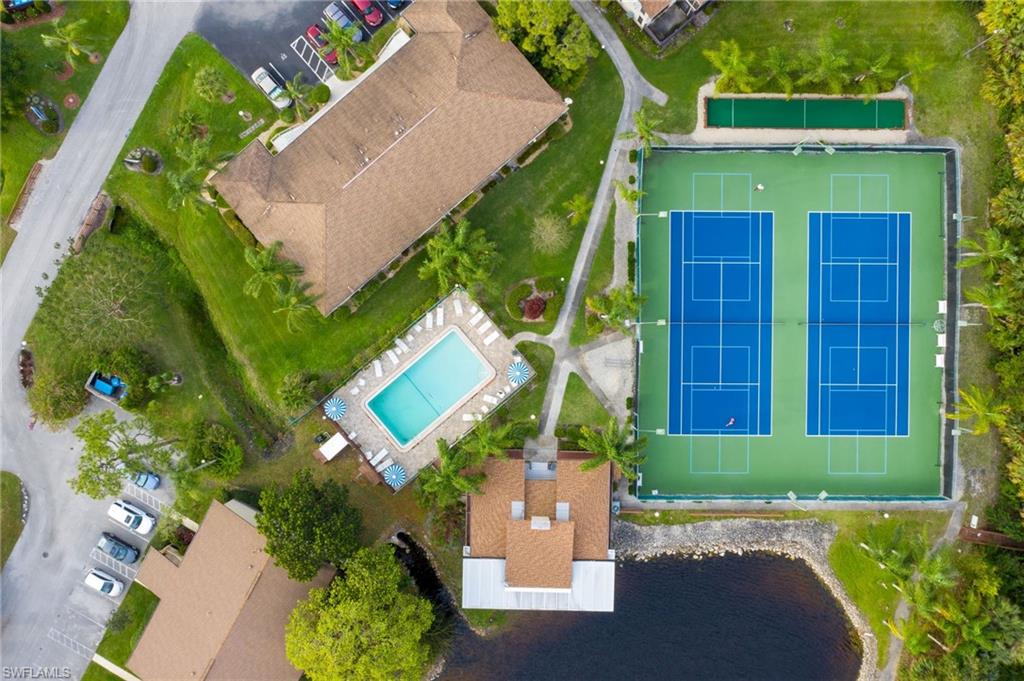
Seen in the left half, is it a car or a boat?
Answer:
car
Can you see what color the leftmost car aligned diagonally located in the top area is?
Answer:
white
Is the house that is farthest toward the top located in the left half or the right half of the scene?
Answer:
right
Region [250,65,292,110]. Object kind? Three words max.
car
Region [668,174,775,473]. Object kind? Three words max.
tennis court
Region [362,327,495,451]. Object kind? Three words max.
swimming pool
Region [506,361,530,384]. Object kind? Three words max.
umbrella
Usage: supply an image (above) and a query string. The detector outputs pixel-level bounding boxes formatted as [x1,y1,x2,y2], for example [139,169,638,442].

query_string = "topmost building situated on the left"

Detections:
[208,0,566,316]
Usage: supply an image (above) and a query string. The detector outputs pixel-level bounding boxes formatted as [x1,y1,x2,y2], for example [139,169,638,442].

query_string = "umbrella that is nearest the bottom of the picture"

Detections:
[384,464,407,487]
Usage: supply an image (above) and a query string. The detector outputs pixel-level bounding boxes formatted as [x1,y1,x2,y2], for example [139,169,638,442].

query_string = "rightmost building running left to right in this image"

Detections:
[618,0,718,47]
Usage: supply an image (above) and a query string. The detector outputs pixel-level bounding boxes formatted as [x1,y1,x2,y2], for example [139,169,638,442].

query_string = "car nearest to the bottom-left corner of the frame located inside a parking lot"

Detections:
[82,567,125,598]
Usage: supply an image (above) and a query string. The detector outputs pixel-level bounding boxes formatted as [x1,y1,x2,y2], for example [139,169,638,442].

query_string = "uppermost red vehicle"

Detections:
[353,0,386,27]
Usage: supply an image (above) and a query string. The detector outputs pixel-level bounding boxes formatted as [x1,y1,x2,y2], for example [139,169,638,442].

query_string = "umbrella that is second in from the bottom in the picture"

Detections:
[324,396,347,419]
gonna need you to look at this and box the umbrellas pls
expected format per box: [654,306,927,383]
[324,396,347,419]
[506,361,530,384]
[384,464,407,487]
